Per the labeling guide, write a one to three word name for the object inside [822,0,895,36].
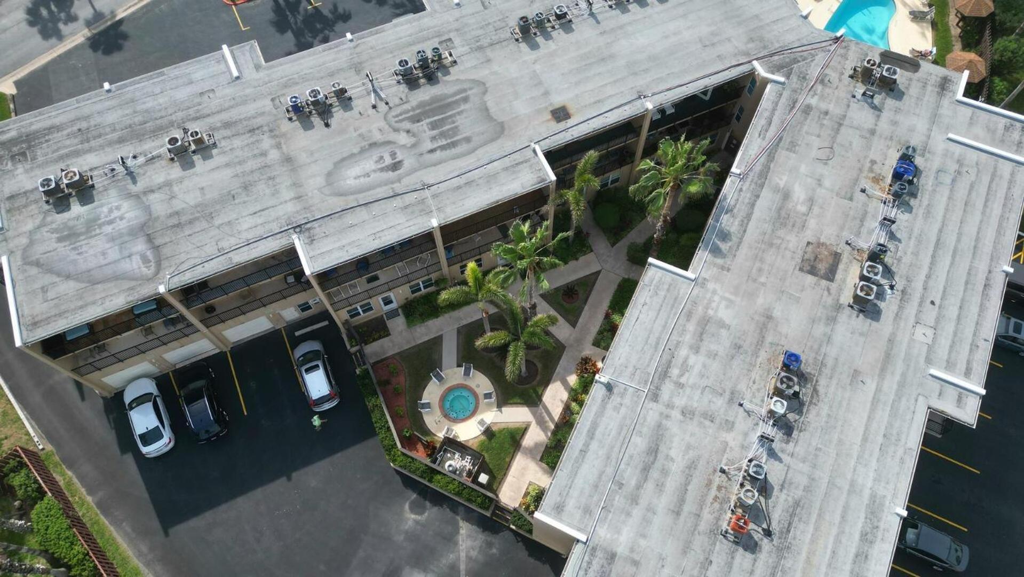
swimming pool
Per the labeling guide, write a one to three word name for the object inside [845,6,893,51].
swimming pool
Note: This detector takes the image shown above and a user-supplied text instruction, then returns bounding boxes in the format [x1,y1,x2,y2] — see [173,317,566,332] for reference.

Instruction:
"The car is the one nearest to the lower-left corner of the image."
[127,377,177,462]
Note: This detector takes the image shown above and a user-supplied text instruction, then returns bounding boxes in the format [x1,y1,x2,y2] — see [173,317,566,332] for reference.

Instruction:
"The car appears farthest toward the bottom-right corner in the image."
[898,510,971,569]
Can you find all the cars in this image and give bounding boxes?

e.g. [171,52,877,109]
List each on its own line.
[127,377,177,462]
[994,311,1024,356]
[178,364,226,447]
[295,337,340,417]
[898,510,971,569]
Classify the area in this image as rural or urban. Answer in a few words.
urban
